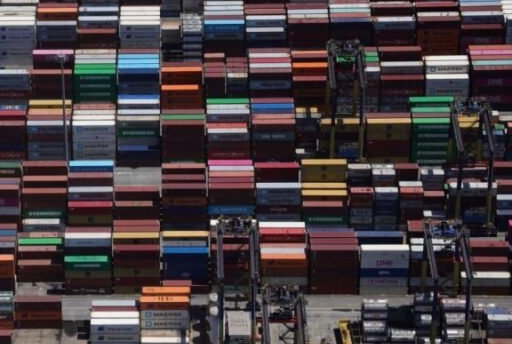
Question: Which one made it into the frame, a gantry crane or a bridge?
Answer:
gantry crane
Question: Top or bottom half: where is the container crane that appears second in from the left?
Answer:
bottom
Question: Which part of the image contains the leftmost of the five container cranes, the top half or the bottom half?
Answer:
bottom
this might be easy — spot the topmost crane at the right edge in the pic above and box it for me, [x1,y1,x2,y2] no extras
[446,100,500,233]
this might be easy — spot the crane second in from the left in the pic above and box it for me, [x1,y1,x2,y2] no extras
[252,283,304,344]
